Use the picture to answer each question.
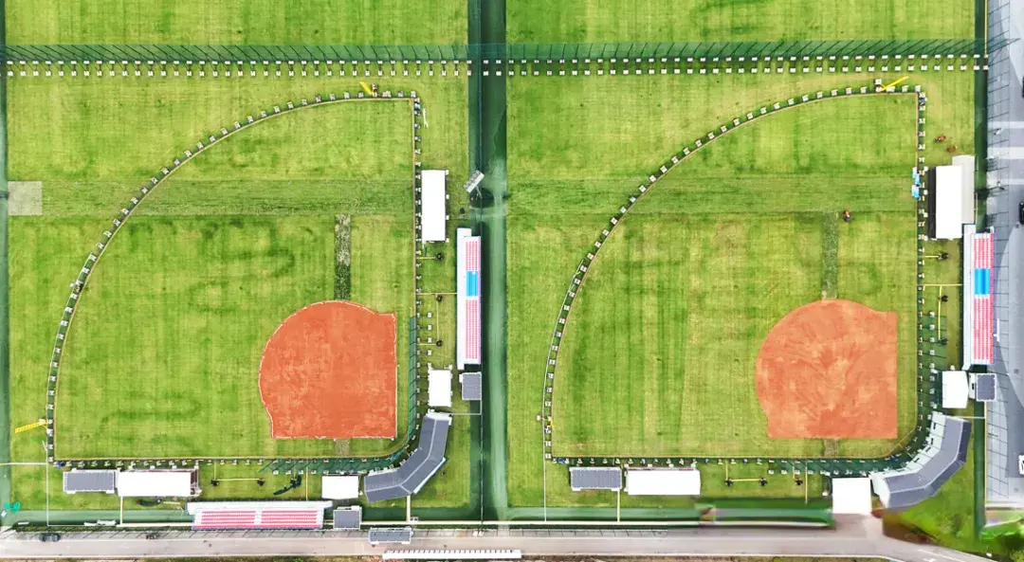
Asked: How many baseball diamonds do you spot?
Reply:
2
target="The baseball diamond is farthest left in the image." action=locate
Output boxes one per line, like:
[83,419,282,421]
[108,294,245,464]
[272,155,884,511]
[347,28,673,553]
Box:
[55,98,414,458]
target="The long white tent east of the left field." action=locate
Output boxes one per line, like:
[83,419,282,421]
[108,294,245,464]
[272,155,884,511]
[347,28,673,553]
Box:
[422,170,447,243]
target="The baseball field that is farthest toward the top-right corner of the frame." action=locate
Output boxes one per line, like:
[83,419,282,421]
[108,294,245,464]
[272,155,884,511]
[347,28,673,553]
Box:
[552,93,917,457]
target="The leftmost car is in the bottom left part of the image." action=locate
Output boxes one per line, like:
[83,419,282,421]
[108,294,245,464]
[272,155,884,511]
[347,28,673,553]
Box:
[36,533,59,545]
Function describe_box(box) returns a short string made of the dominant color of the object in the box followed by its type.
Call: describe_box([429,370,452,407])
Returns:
white tent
